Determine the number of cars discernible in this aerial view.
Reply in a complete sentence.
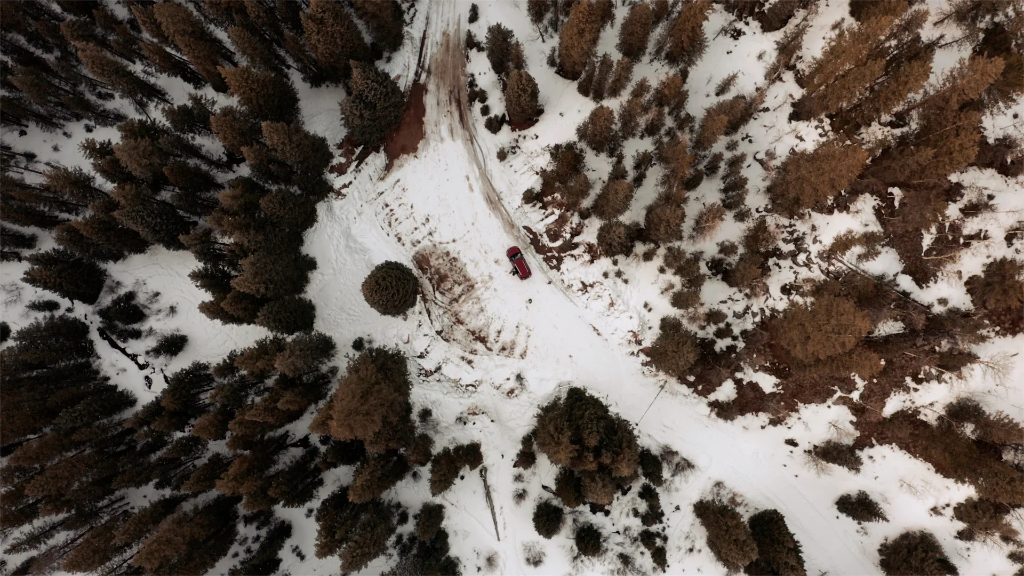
I count 1 car.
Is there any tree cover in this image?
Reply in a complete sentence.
Yes, there's tree cover in this view.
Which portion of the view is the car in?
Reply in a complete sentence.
You can find the car in the center area of the picture.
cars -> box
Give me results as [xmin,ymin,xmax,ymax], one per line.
[508,245,531,281]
